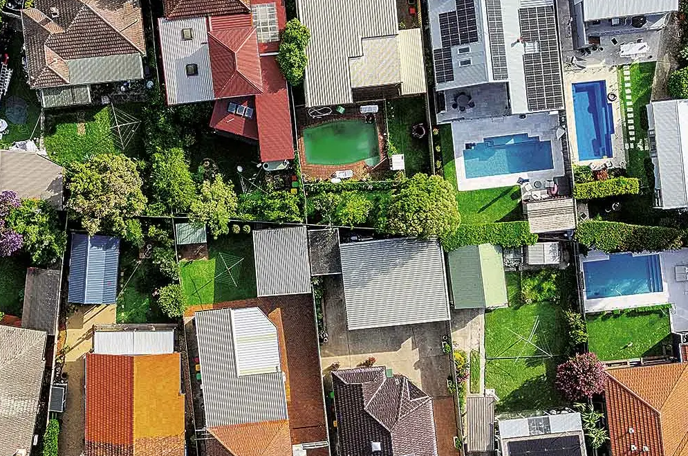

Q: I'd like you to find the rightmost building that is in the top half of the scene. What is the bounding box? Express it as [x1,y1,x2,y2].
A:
[643,100,688,209]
